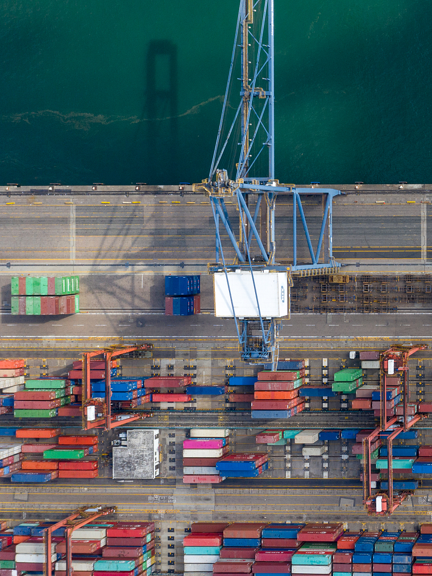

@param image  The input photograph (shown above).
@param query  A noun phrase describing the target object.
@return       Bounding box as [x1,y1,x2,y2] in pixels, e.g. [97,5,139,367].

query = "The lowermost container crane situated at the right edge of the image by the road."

[363,423,417,518]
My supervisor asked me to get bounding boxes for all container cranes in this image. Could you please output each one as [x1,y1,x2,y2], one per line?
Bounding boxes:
[81,344,156,437]
[363,423,417,518]
[379,344,432,438]
[40,507,117,576]
[189,0,351,371]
